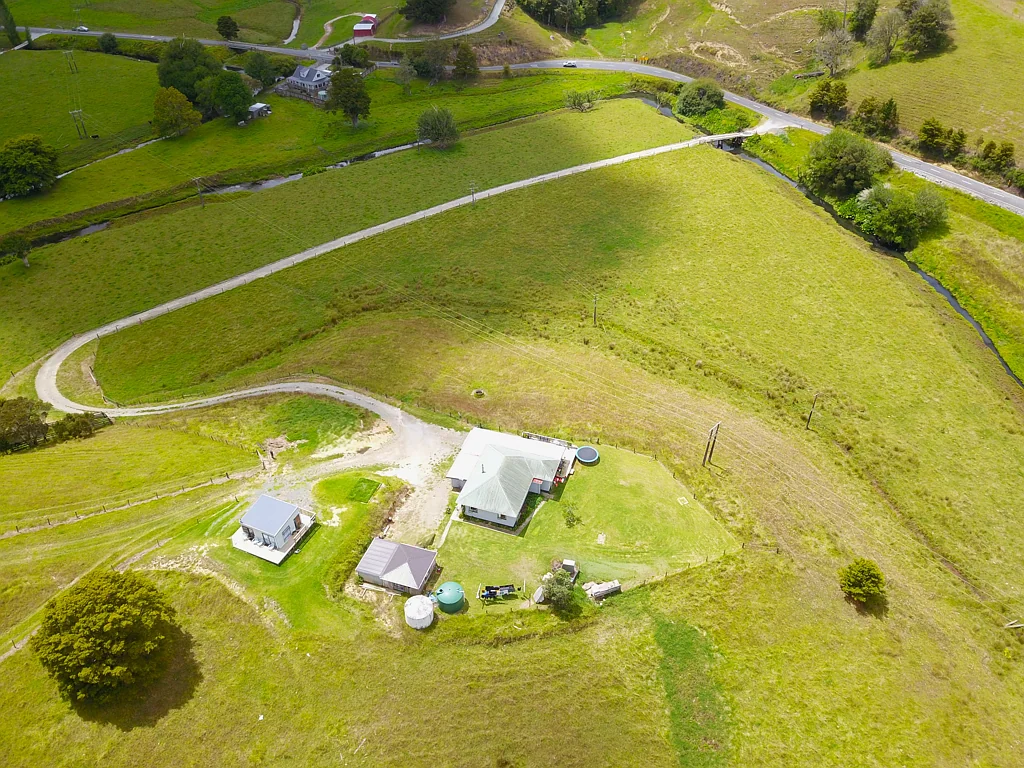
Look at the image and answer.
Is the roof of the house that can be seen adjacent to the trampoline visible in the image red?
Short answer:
No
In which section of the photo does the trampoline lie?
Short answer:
center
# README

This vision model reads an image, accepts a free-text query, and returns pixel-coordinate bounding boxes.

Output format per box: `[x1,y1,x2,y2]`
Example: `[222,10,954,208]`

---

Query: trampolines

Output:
[575,446,599,466]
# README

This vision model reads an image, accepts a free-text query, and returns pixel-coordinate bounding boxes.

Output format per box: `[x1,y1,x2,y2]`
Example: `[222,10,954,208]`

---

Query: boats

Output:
[532,590,544,605]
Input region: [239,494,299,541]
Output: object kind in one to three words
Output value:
building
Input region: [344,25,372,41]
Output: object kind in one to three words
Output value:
barn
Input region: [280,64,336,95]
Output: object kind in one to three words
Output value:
house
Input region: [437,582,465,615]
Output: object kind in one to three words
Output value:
water tank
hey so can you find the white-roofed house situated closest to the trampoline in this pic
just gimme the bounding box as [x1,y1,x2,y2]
[447,428,566,526]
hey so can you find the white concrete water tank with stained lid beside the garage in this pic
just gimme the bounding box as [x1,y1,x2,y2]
[404,594,435,631]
